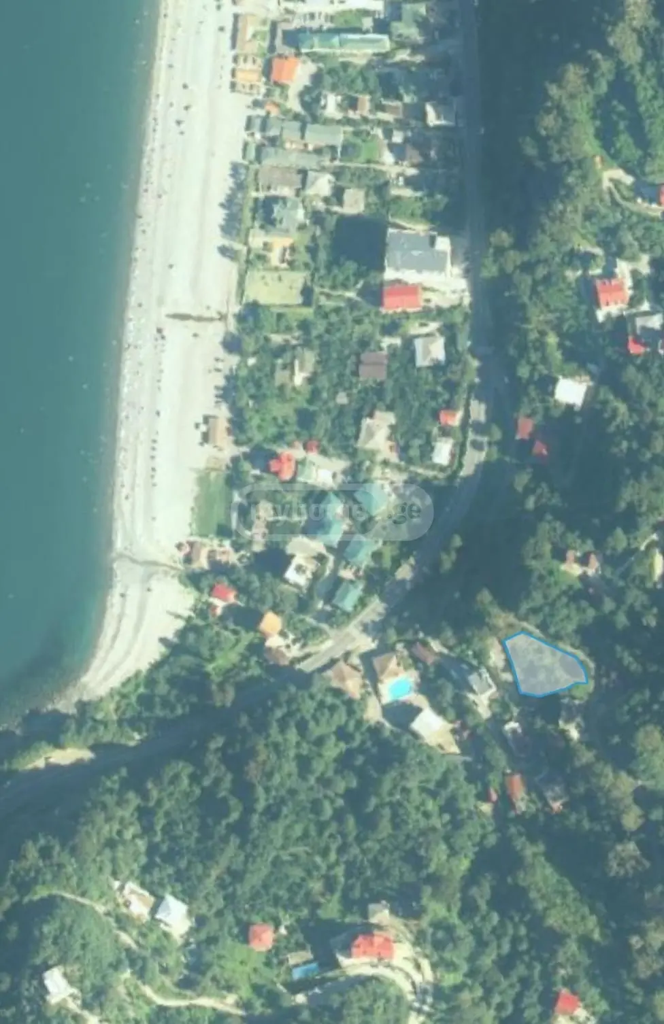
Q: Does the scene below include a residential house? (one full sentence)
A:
Yes, the image includes a residential house.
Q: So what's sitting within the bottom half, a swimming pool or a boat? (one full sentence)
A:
Visible within the bottom half is a swimming pool.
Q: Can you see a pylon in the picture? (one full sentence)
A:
No, the scene contains no pylon.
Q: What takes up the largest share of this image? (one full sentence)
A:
The bulk of the photo consists of trees.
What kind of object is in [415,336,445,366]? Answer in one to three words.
house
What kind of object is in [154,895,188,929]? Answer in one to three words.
house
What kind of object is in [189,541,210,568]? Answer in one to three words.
building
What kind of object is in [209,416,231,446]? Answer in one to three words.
shed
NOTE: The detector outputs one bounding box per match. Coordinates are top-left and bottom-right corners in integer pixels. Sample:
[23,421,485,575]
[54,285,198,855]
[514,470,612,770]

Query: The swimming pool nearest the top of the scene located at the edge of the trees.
[388,676,413,701]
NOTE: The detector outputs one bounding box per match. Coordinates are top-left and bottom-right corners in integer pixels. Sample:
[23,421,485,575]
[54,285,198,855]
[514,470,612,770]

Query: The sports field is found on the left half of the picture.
[195,471,231,536]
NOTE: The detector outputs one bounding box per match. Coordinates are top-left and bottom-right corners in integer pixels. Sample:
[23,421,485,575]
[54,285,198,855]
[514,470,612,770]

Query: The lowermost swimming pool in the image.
[290,960,320,980]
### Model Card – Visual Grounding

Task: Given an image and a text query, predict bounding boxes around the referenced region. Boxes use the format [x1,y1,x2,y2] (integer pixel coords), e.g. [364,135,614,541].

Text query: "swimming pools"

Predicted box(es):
[290,960,320,980]
[388,676,413,701]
